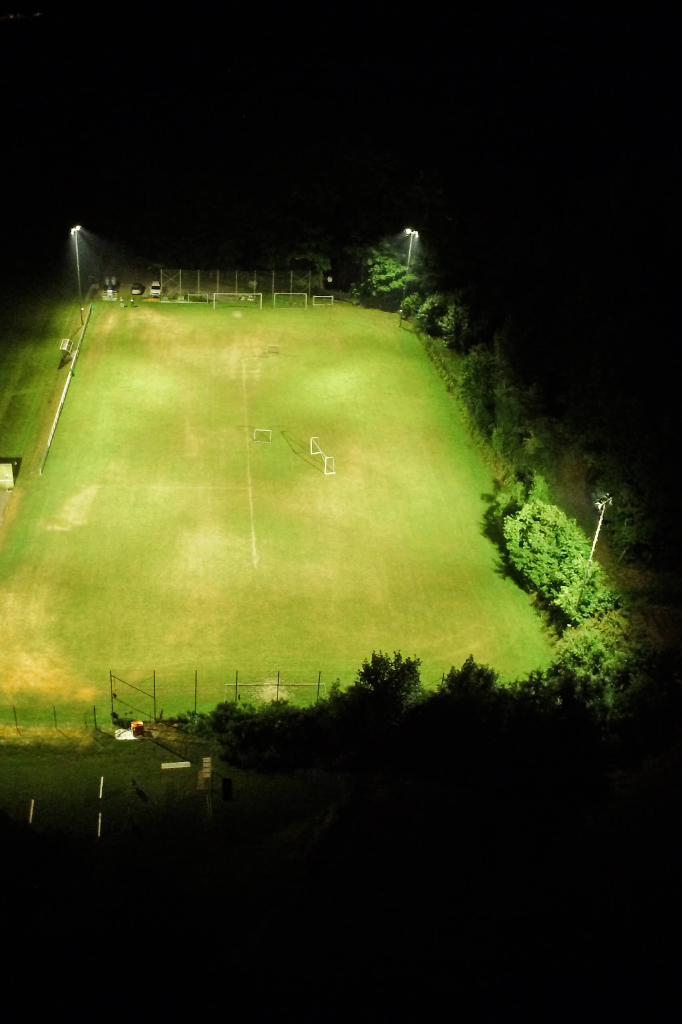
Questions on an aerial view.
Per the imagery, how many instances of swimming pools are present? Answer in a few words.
zero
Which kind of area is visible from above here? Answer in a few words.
sports ground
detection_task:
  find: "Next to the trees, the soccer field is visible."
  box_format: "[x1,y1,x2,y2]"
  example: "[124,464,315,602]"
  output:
[0,298,555,747]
